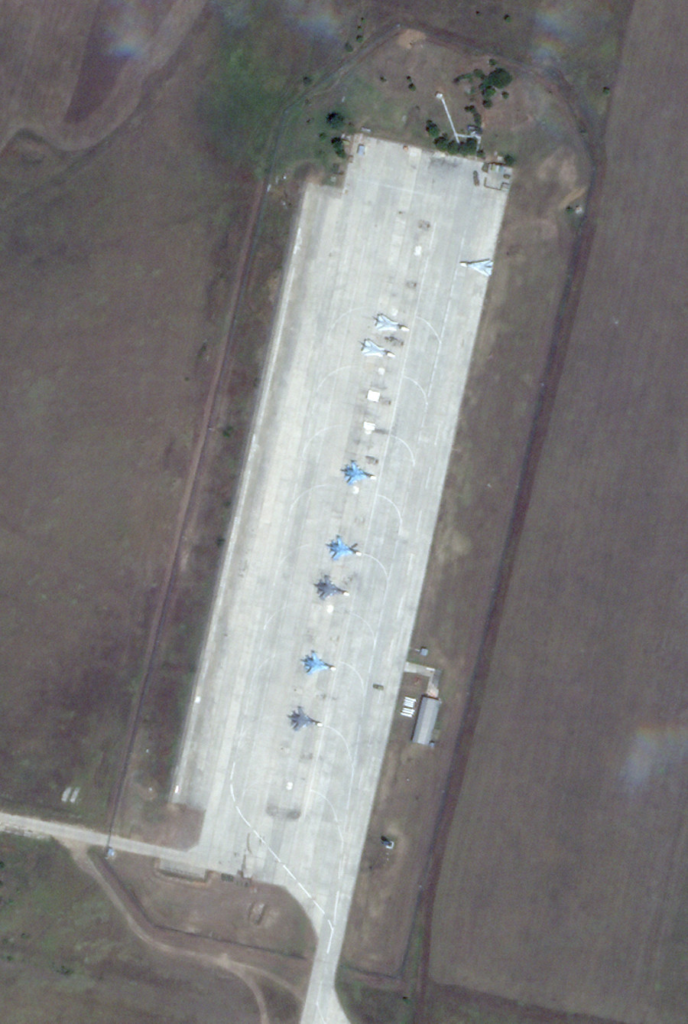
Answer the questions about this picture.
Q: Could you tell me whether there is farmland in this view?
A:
Yes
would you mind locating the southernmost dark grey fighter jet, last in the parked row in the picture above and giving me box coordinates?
[286,708,324,732]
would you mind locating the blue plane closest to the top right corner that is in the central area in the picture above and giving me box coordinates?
[340,460,377,485]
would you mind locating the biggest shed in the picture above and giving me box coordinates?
[413,697,440,745]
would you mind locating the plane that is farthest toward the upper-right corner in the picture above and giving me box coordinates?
[460,260,495,276]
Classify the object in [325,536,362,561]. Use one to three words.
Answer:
airplane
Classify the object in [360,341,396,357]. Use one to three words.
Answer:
airplane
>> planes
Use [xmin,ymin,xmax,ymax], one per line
[300,652,337,676]
[340,460,377,485]
[375,316,410,332]
[360,341,396,357]
[286,708,324,732]
[325,536,362,561]
[460,260,495,276]
[313,577,350,601]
